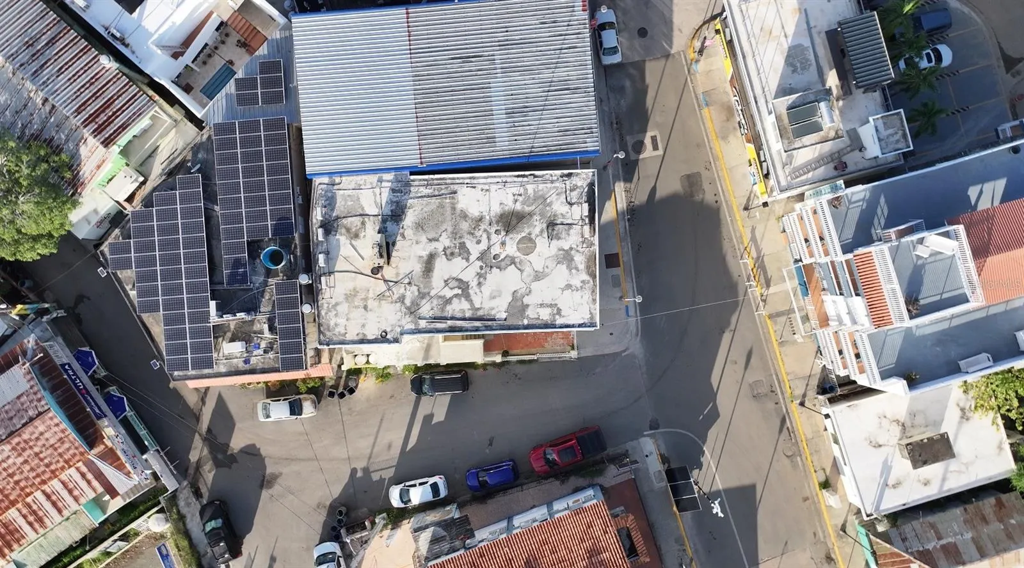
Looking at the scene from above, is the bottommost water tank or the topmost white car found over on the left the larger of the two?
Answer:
the car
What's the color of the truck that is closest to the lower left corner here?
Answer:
black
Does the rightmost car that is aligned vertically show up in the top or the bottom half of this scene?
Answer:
top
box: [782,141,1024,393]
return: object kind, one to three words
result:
house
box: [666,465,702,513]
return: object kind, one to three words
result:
solar panel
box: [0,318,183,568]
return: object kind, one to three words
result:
building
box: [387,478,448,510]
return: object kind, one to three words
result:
car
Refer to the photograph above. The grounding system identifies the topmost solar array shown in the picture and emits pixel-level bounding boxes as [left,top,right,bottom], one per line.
[235,60,285,106]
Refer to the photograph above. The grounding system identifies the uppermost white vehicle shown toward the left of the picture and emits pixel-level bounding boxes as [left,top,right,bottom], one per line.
[255,395,317,423]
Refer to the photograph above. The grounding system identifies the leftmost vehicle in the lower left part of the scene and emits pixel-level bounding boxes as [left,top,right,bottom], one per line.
[196,499,236,568]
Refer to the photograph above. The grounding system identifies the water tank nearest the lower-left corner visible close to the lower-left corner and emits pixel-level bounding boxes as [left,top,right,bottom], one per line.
[140,512,168,538]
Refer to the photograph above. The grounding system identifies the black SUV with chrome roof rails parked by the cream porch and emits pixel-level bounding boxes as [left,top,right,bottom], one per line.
[409,371,469,401]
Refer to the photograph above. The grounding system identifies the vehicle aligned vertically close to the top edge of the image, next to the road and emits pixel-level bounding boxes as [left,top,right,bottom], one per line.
[595,5,622,65]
